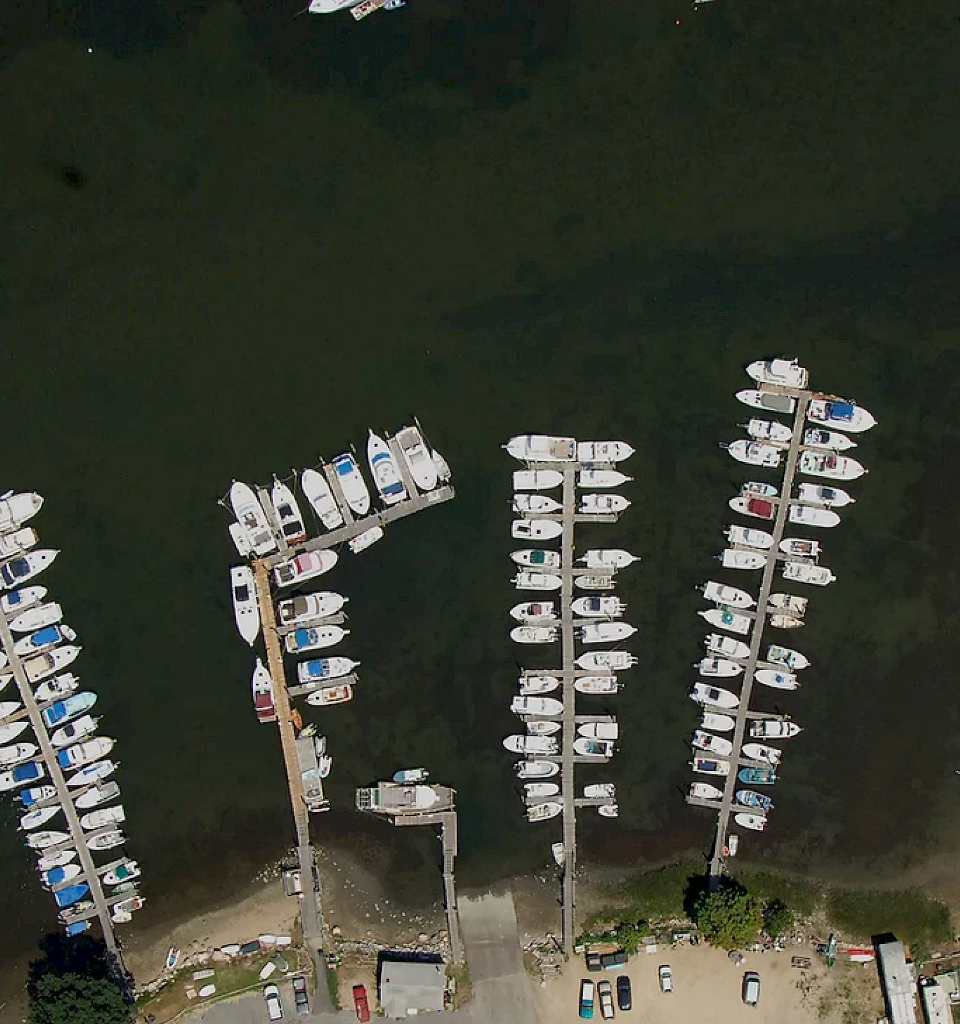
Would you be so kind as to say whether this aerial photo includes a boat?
Yes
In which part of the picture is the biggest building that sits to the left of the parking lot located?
bottom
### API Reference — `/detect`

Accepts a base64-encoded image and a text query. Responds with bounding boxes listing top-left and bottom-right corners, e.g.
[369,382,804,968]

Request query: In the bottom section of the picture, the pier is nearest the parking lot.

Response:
[520,462,621,958]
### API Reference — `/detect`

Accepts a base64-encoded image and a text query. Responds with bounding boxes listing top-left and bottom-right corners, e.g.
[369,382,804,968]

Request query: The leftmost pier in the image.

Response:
[0,552,141,989]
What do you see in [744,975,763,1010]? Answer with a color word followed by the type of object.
white vehicle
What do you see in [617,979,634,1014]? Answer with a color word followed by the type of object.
black car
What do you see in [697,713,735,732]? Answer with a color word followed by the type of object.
white boat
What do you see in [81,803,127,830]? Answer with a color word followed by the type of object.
white boat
